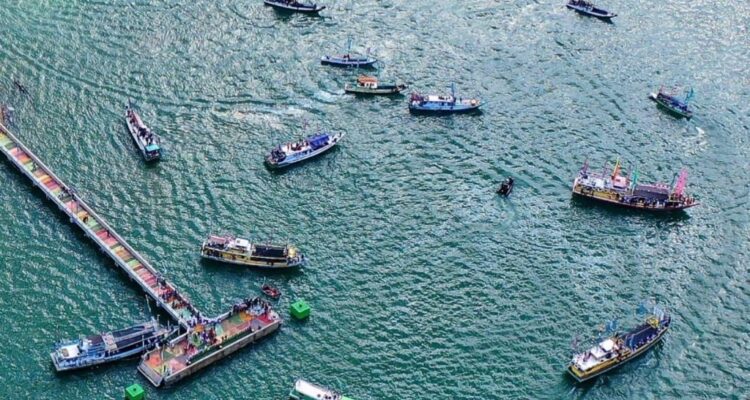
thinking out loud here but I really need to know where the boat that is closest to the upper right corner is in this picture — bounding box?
[647,86,695,119]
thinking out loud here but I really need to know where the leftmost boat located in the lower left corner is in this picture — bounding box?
[54,319,180,371]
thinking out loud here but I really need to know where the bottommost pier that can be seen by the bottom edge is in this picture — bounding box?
[136,295,280,390]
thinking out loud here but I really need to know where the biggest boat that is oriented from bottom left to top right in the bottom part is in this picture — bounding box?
[565,303,672,379]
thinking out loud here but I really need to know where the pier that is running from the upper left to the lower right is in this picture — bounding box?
[0,125,211,332]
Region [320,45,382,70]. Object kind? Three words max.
boat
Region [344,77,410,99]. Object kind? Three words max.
boat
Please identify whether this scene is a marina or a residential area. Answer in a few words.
marina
